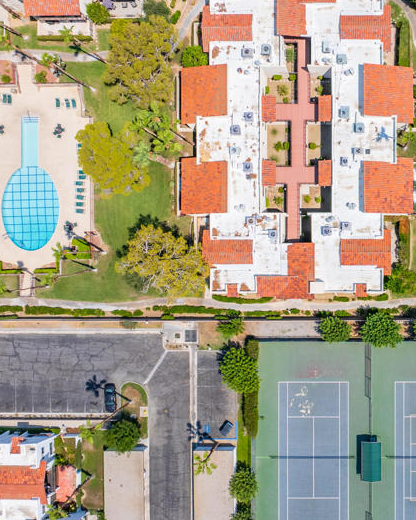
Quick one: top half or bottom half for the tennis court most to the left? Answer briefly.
bottom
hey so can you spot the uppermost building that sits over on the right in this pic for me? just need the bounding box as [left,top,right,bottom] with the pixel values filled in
[181,0,414,298]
